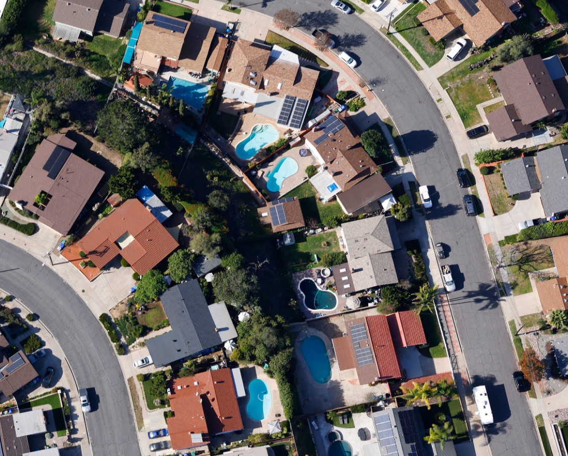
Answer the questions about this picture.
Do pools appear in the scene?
Yes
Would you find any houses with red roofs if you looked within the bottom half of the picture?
Yes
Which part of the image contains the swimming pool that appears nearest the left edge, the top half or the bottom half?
top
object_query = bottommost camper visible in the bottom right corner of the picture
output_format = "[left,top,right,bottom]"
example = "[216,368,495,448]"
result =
[471,386,494,426]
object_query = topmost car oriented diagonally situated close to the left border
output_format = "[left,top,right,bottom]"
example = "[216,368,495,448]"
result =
[28,349,47,364]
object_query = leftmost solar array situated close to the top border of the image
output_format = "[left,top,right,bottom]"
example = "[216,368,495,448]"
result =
[152,15,187,33]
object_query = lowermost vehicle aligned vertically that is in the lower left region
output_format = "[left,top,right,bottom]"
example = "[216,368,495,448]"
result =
[79,389,92,413]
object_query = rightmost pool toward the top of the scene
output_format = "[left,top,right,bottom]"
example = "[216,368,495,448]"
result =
[265,155,300,198]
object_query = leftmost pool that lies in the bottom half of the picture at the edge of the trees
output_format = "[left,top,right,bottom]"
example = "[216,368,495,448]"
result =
[244,377,274,422]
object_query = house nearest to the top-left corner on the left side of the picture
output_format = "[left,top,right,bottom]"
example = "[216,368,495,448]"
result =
[51,0,130,43]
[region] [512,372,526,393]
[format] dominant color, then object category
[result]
black vehicle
